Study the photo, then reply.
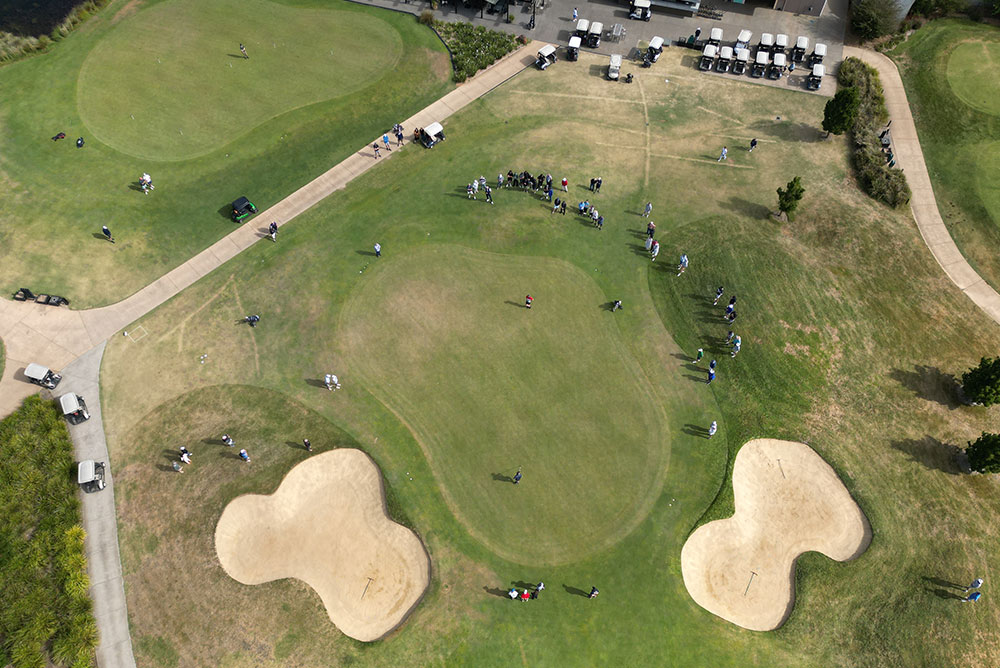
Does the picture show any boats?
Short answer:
No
